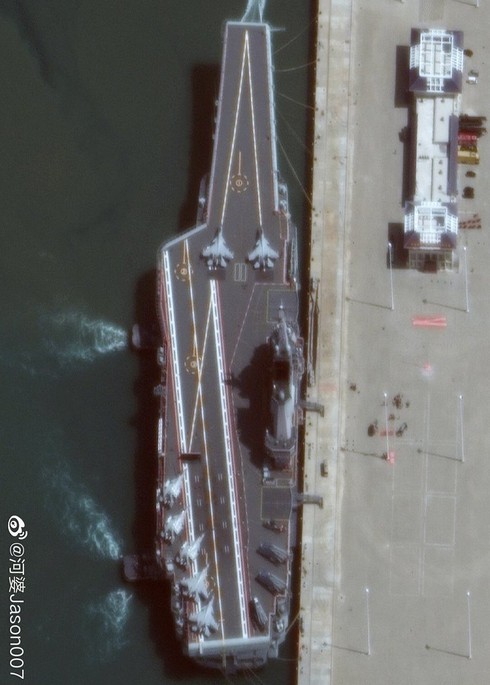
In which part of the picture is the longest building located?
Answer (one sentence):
The longest building is in the top right part of the image.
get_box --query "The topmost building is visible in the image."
[404,28,464,278]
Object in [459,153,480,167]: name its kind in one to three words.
vehicle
